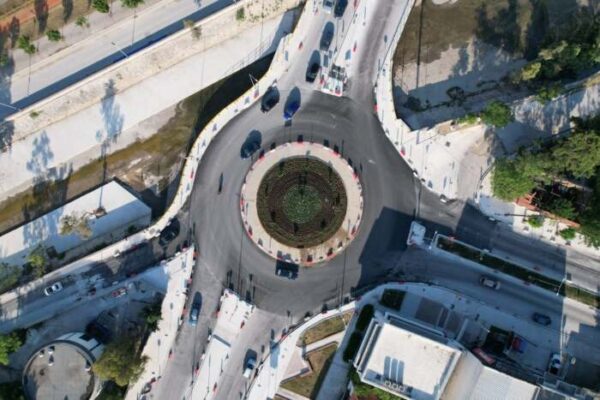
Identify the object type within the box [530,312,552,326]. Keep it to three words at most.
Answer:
car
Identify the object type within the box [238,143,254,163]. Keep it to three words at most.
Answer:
car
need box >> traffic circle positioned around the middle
[193,94,411,312]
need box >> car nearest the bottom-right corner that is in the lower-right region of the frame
[548,351,561,374]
